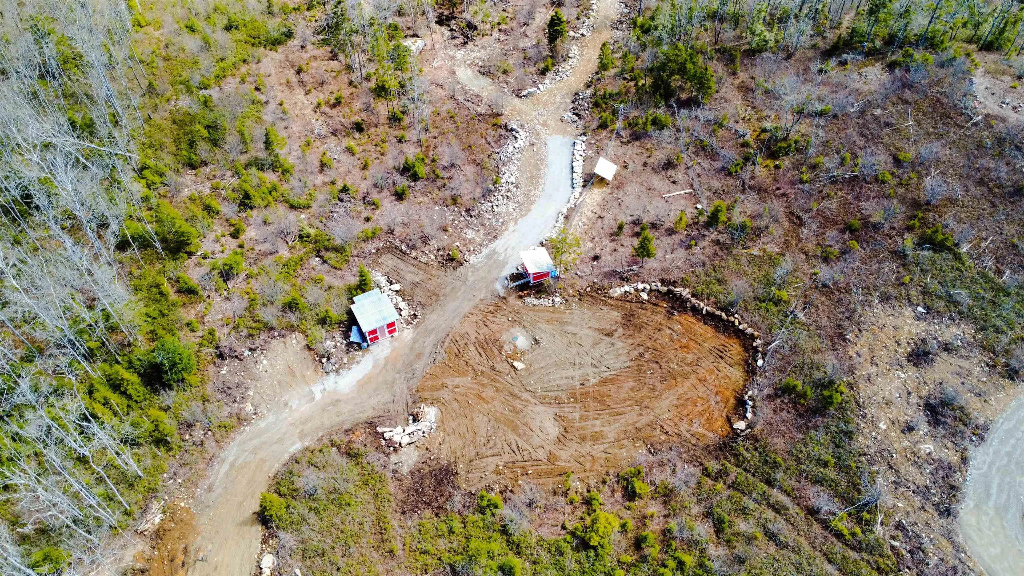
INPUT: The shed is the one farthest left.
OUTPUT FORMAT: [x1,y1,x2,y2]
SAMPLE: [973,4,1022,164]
[354,290,402,344]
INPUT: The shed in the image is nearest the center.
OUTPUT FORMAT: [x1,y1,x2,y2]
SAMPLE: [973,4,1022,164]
[522,245,557,286]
